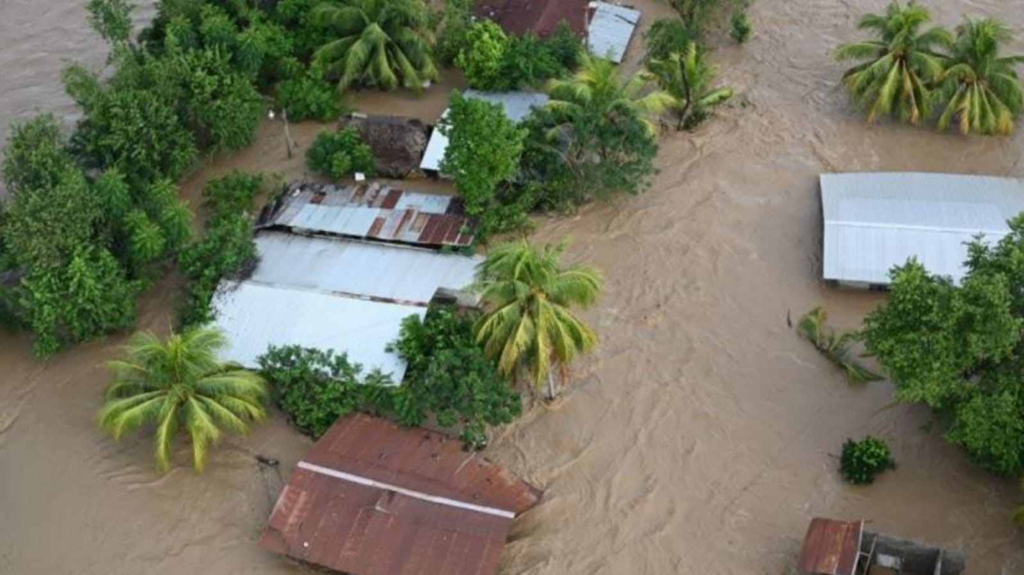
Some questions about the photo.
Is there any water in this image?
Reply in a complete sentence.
Yes, some water is visible.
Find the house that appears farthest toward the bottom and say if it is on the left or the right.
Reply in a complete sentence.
The house that appears farthest toward the bottom is on the right side of the image.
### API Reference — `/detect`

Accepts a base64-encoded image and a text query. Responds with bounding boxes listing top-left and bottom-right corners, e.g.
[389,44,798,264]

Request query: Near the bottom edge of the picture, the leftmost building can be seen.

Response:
[260,416,543,575]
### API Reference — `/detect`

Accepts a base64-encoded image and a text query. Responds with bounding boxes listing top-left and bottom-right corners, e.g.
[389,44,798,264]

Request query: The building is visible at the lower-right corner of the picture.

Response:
[798,519,965,575]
